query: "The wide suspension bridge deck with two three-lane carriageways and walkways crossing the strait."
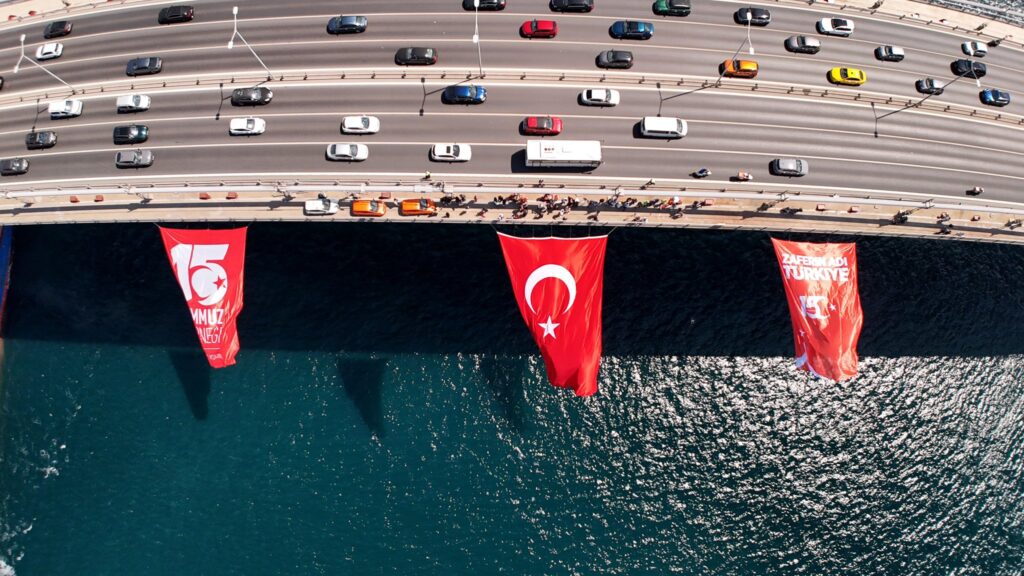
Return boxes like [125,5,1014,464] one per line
[0,0,1024,245]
